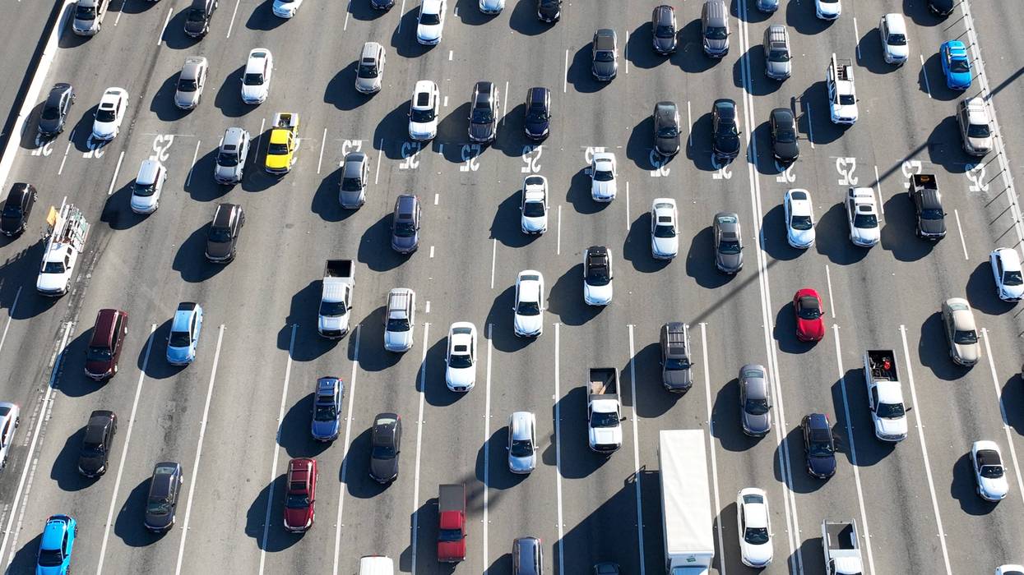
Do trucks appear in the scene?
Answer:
Yes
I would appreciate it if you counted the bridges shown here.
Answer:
0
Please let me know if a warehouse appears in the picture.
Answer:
No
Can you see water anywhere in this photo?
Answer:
No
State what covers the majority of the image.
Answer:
paved ground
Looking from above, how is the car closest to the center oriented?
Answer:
vertically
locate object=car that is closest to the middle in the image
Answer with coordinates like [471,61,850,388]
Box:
[513,272,545,338]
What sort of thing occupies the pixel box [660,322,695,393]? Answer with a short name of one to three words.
car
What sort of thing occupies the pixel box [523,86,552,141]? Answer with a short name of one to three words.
vehicle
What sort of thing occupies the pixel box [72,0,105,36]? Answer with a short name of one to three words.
car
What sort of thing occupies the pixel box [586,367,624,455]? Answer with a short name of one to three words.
truck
